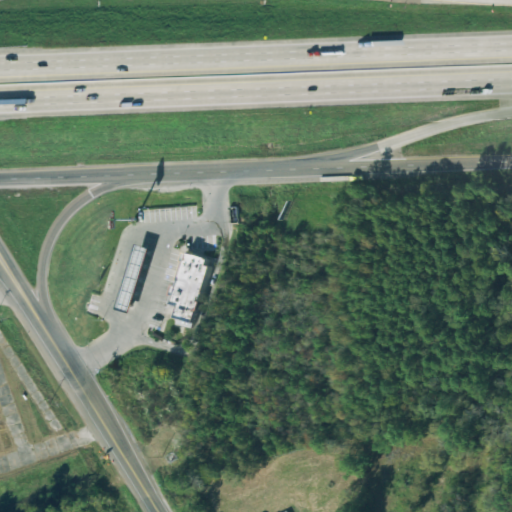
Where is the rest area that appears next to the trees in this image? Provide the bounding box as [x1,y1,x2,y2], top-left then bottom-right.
[72,186,234,372]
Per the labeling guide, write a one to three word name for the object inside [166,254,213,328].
building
